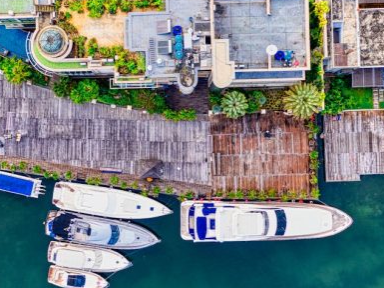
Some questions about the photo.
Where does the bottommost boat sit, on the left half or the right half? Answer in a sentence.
You can find the bottommost boat on the left side of the picture.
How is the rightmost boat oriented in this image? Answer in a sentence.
What the image shows is the rightmost boat lying from left to right.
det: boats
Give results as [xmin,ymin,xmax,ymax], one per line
[50,180,173,219]
[46,264,110,288]
[42,210,160,248]
[44,240,133,271]
[0,171,48,199]
[181,201,355,243]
